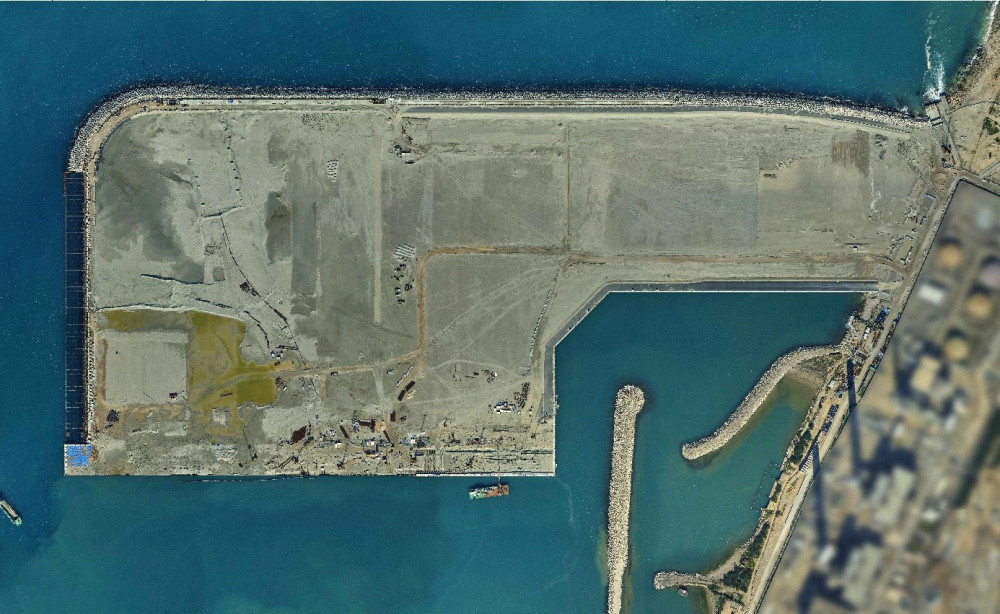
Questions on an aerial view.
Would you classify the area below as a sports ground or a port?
port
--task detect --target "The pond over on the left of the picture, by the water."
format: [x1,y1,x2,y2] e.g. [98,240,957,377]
[101,309,275,406]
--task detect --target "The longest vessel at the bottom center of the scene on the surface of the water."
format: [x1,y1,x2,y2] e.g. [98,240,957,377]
[469,483,509,500]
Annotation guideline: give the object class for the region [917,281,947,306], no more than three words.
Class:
shed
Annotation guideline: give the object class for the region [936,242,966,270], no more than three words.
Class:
storage tank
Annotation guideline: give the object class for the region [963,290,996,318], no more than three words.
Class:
storage tank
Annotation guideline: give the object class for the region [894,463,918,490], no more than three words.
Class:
building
